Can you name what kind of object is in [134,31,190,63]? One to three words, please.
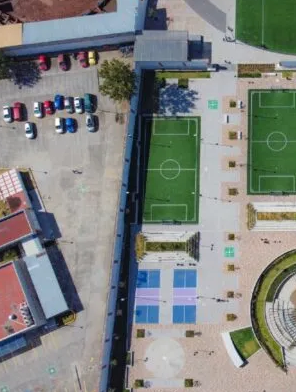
building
